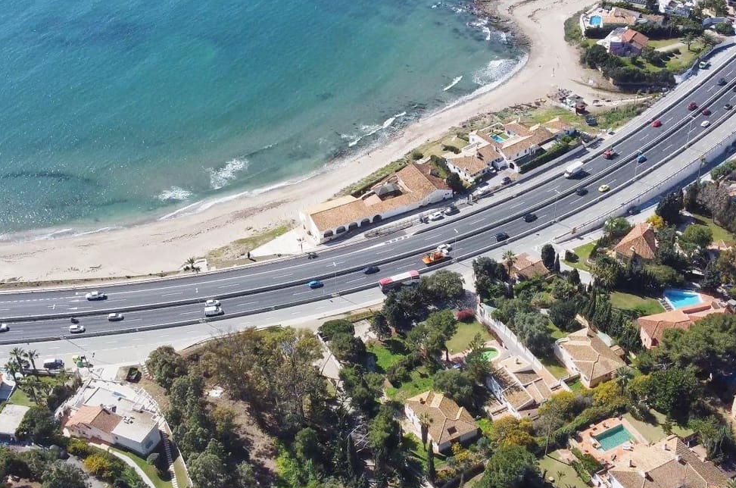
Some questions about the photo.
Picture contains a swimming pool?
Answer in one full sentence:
Yes, a swimming pool is visible in the scene.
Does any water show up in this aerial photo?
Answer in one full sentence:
Yes, the picture does contain water.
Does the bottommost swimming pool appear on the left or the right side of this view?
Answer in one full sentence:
You can find the bottommost swimming pool on the right side of the picture.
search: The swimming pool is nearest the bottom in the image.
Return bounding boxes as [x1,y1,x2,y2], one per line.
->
[592,422,639,454]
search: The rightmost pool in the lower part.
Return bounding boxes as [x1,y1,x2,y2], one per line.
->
[660,288,704,313]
